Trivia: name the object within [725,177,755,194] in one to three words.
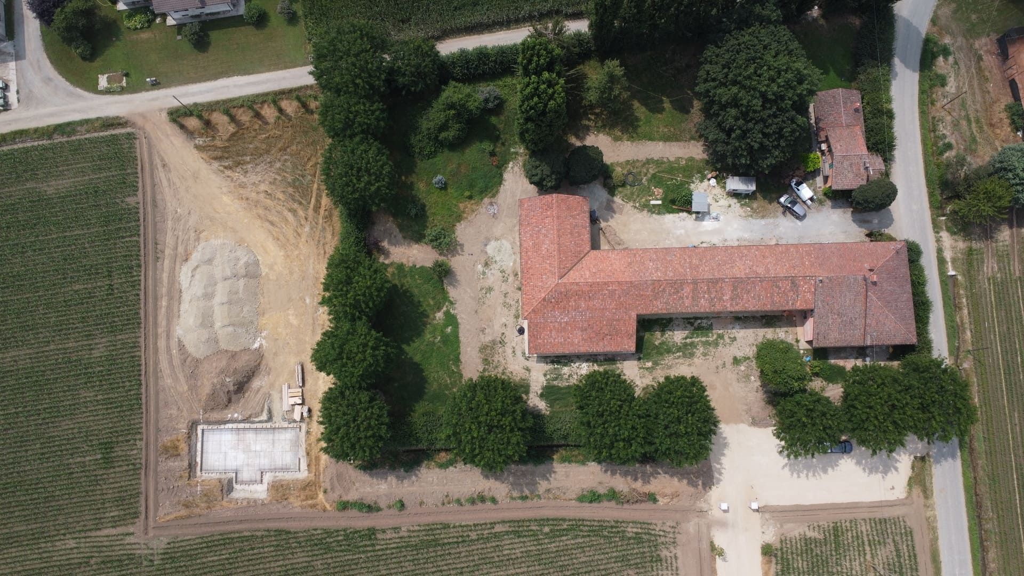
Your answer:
shed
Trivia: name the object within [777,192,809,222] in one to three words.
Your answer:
car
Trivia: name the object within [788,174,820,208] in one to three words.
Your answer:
truck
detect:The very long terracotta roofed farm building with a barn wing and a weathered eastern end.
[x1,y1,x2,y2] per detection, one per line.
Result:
[519,193,917,356]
